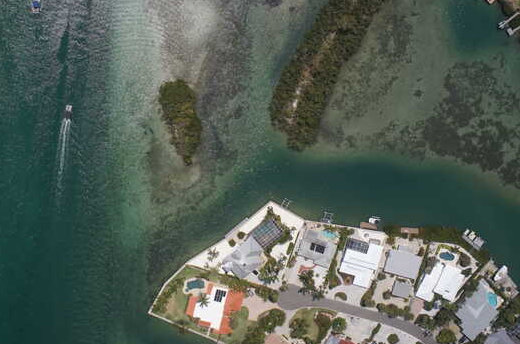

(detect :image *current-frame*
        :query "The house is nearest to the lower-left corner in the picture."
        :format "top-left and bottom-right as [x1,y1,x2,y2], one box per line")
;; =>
[186,282,243,334]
